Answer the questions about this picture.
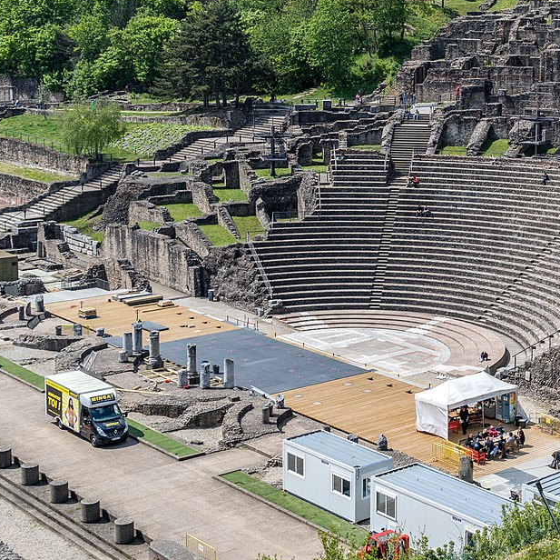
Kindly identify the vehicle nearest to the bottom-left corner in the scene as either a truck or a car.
truck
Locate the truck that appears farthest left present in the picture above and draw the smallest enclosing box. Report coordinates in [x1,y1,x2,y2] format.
[43,370,133,452]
